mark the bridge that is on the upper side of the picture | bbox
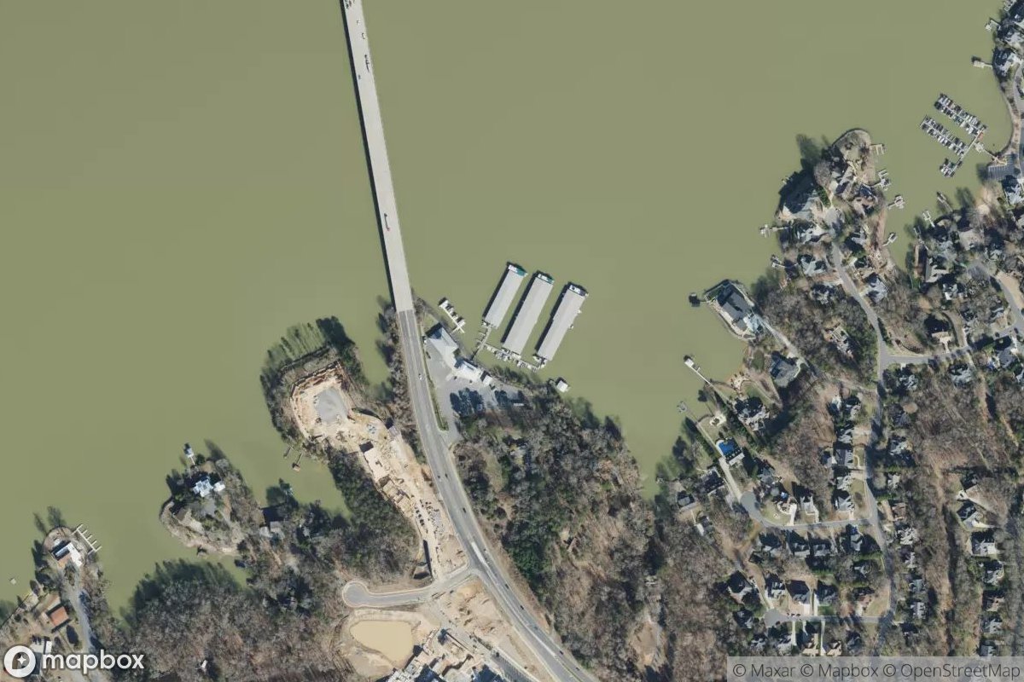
[344,0,414,313]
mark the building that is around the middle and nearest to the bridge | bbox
[428,327,459,367]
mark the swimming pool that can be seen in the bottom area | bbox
[717,437,736,455]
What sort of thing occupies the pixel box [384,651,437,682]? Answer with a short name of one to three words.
building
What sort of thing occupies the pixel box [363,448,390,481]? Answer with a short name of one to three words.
building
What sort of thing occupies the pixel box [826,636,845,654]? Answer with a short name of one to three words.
house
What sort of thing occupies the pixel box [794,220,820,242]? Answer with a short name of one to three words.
house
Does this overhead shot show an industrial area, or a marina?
marina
